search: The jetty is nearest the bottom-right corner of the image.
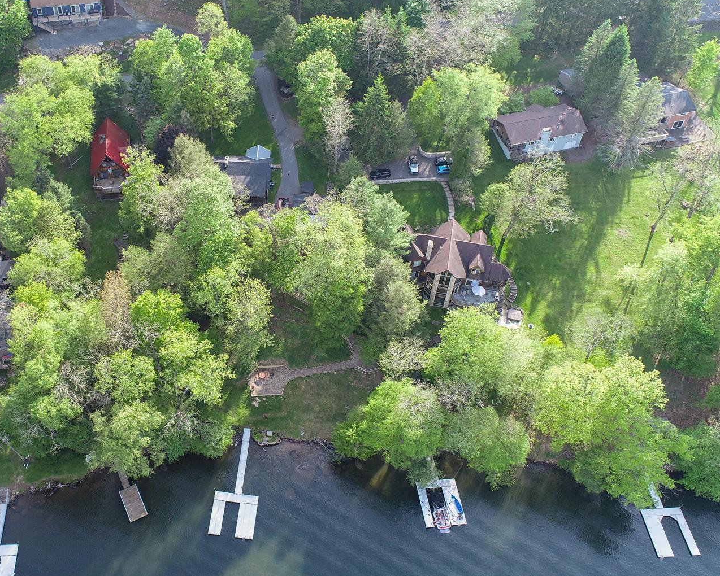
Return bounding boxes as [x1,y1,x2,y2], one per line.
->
[637,483,704,560]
